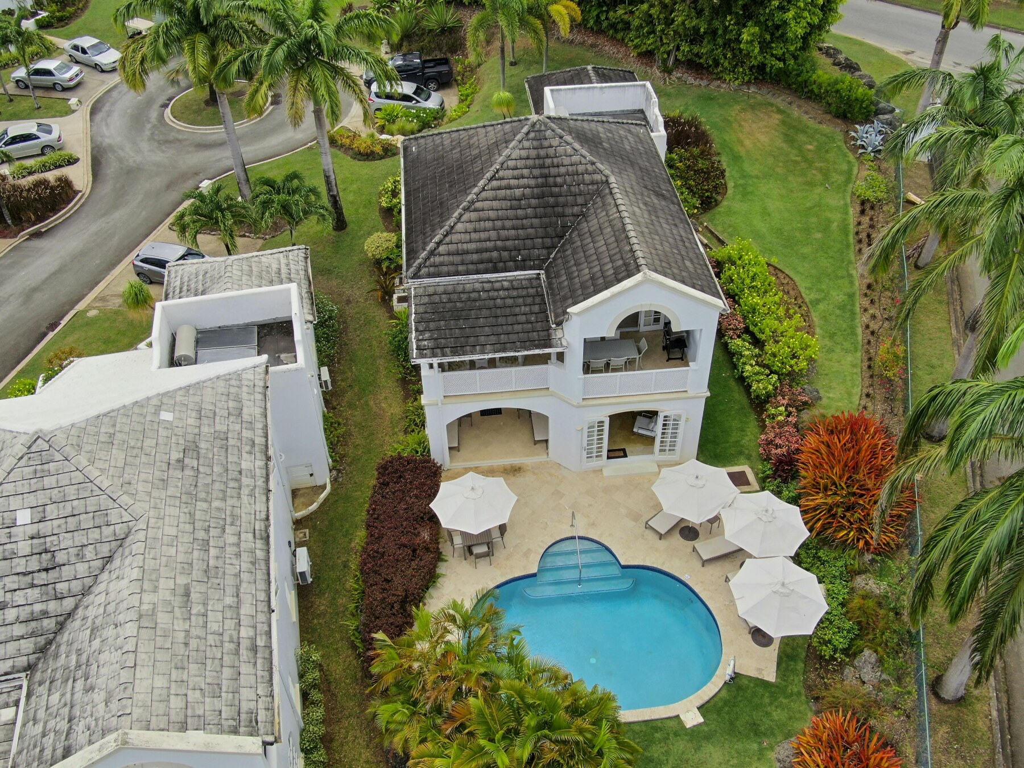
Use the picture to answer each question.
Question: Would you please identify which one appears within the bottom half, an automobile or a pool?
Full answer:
The feature located within the bottom half is a pool.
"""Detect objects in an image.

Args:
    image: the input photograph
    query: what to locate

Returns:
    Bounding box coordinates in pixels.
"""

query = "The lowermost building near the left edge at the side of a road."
[0,243,341,768]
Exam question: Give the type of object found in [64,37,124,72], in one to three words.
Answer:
car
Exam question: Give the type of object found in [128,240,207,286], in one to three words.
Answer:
car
